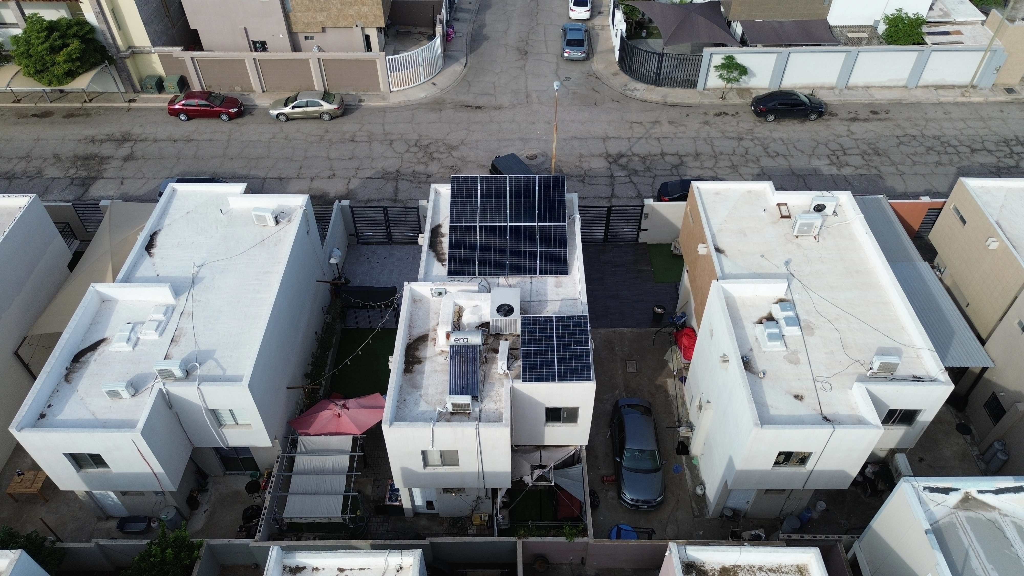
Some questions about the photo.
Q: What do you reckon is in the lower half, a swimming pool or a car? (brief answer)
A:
car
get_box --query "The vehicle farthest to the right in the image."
[752,89,829,123]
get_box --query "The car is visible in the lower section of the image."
[611,398,671,511]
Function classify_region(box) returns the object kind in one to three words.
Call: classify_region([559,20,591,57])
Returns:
car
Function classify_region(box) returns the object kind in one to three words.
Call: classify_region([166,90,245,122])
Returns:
car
